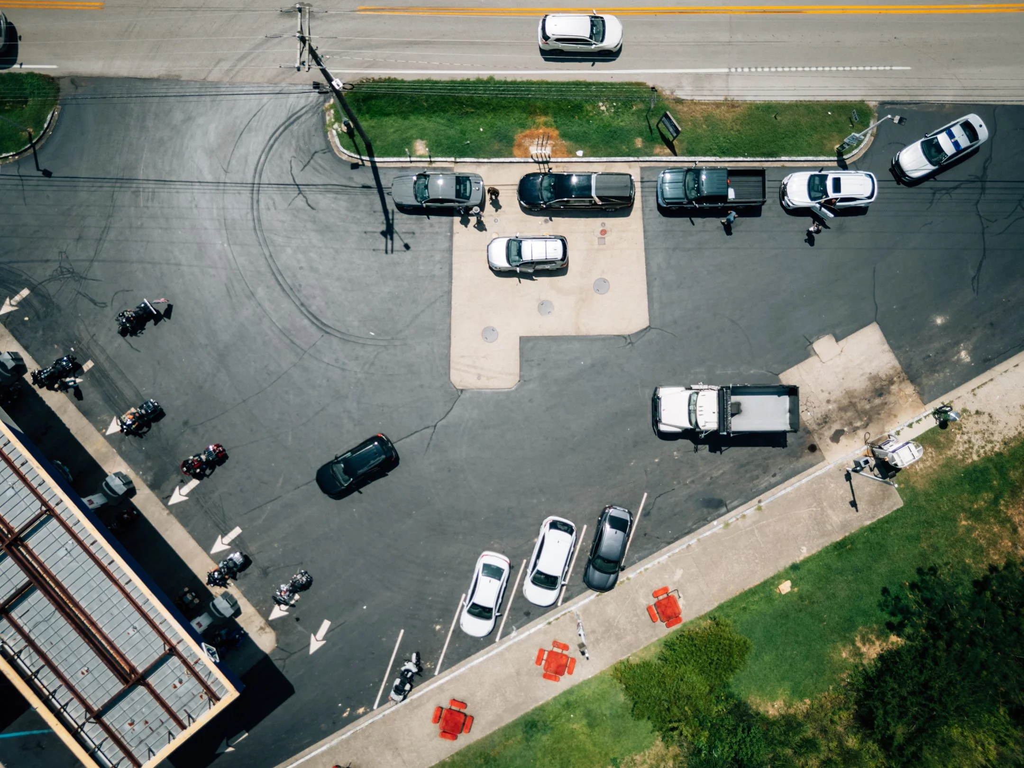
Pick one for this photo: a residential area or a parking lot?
parking lot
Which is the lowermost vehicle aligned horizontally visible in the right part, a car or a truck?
truck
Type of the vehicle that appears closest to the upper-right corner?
car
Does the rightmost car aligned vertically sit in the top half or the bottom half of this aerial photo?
bottom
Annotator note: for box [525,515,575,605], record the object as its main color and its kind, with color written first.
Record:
white car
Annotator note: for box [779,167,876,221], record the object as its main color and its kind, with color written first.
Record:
white car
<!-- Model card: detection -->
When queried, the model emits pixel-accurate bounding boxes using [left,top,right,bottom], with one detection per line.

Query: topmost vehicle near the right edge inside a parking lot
[889,117,987,186]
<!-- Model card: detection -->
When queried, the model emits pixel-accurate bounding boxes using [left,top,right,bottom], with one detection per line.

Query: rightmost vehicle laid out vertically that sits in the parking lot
[584,503,630,590]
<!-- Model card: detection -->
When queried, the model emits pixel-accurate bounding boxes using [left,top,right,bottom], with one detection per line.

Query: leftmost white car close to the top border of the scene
[538,9,622,56]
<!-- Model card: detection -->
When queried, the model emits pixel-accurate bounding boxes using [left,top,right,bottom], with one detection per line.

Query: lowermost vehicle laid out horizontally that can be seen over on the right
[648,376,802,443]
